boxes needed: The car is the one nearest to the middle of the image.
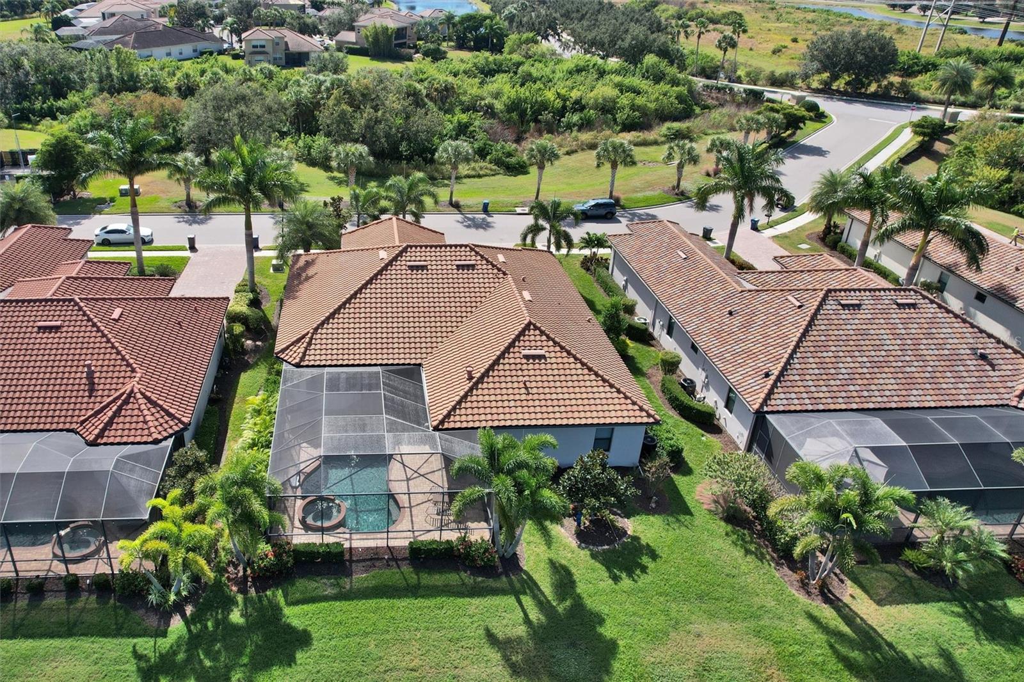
[572,197,620,219]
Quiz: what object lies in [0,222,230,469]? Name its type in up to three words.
house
